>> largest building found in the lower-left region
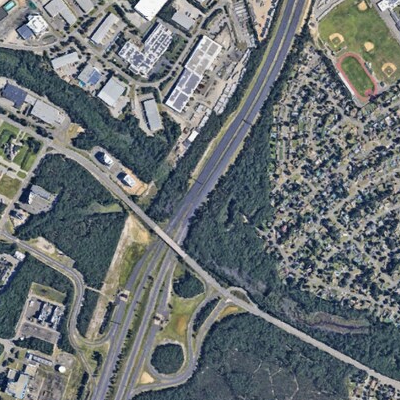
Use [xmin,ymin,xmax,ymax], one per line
[6,375,29,399]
